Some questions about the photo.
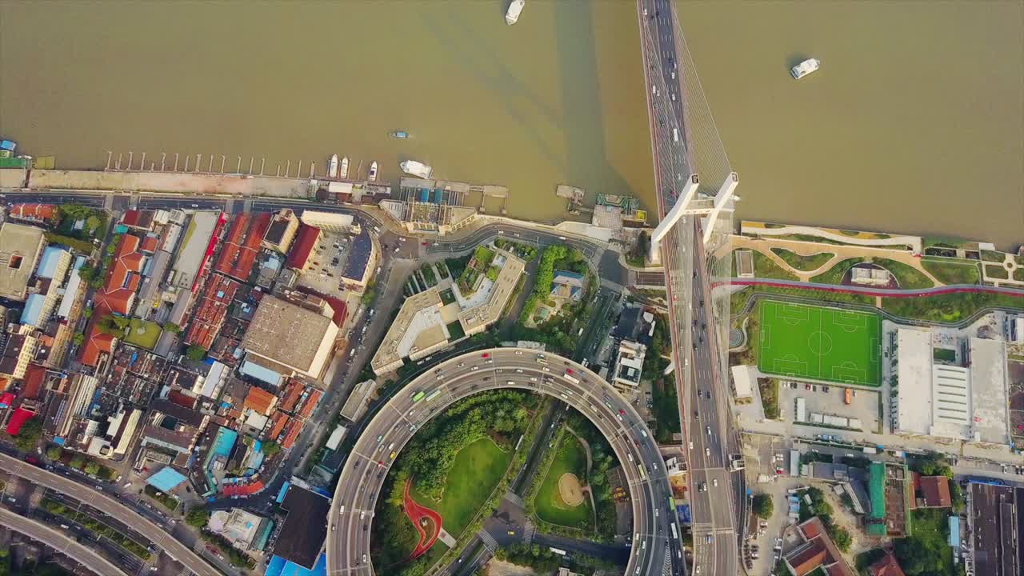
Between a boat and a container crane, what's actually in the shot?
boat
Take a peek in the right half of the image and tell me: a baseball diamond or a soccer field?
soccer field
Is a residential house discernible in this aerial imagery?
Yes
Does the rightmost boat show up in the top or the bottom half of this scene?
top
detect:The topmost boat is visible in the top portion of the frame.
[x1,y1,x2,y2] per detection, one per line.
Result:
[507,0,527,25]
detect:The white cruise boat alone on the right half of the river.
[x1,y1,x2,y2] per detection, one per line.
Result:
[790,58,821,80]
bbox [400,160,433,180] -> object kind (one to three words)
boat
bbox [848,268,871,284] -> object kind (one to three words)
building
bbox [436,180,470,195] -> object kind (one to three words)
pier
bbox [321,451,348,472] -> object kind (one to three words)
greenhouse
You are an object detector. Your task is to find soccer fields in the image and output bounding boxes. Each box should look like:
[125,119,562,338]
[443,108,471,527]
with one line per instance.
[758,299,882,387]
